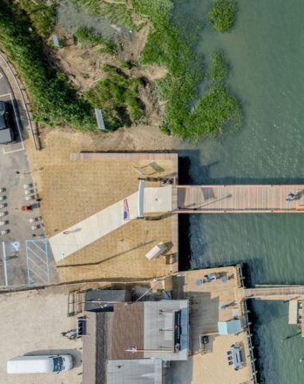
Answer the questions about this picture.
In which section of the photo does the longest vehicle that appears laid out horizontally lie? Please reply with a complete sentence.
You can find the longest vehicle that appears laid out horizontally in the bottom left area of the picture.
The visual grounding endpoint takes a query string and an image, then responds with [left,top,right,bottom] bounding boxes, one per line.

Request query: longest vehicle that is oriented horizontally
[4,352,74,375]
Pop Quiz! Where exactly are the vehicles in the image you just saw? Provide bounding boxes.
[4,352,74,375]
[0,96,18,149]
[61,331,78,338]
